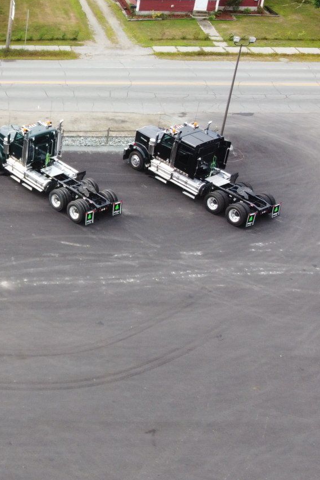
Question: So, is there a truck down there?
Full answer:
Yes, the image includes a truck.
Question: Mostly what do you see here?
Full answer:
The largest share of the image is taken up by paved ground.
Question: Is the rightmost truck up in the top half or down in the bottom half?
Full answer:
The top half of the photo is where the rightmost truck is.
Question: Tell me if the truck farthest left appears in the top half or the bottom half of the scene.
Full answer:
You can find the truck farthest left in the top half.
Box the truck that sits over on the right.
[125,107,287,228]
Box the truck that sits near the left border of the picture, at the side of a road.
[0,112,127,224]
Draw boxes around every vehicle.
[0,112,127,224]
[125,107,287,228]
